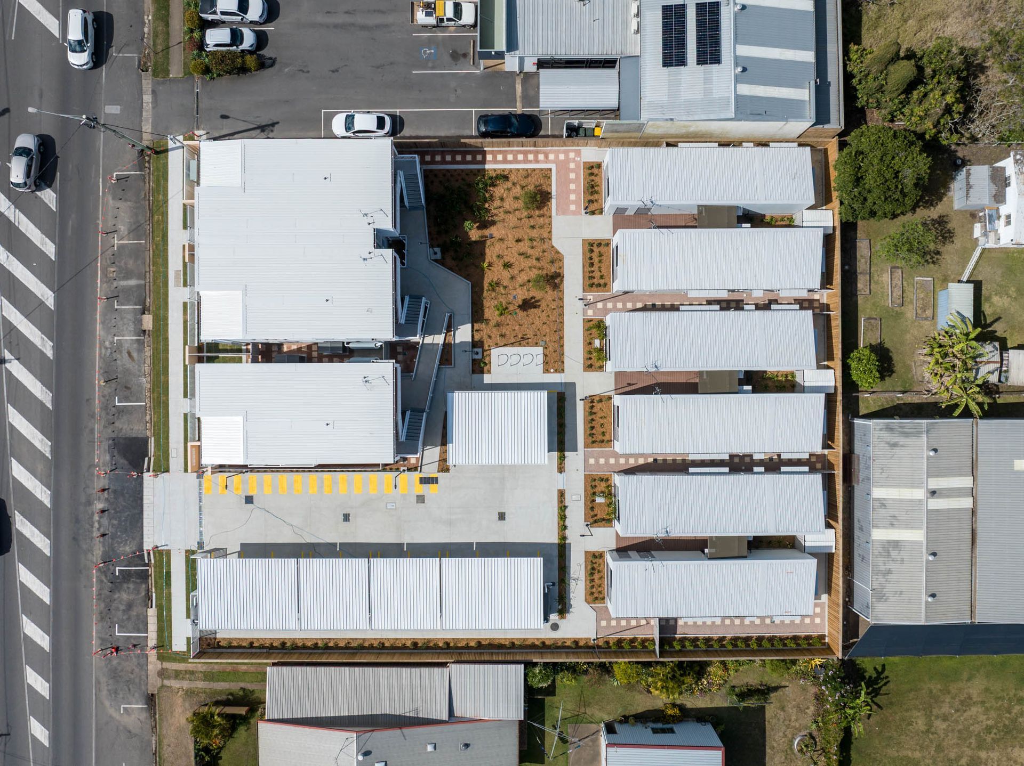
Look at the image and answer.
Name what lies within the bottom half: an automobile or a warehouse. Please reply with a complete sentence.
Looking within the bottom half, you will find a warehouse.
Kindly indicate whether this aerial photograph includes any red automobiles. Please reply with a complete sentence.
No, there isn't any red automobile down there.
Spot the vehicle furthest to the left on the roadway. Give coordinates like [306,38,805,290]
[10,133,45,190]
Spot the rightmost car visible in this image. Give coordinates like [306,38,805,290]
[477,110,536,138]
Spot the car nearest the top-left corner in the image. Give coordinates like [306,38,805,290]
[66,7,100,69]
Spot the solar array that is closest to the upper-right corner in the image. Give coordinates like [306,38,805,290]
[696,0,720,65]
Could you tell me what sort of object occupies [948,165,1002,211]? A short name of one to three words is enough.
shed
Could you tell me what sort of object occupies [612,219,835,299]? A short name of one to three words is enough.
house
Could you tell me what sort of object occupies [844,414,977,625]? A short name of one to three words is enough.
warehouse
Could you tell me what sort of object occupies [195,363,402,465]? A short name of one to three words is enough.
building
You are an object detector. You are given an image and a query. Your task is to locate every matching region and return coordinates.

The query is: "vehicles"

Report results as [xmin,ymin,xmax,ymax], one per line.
[333,109,392,140]
[66,7,100,69]
[203,25,259,57]
[10,133,45,190]
[410,0,478,27]
[477,110,536,138]
[199,0,269,25]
